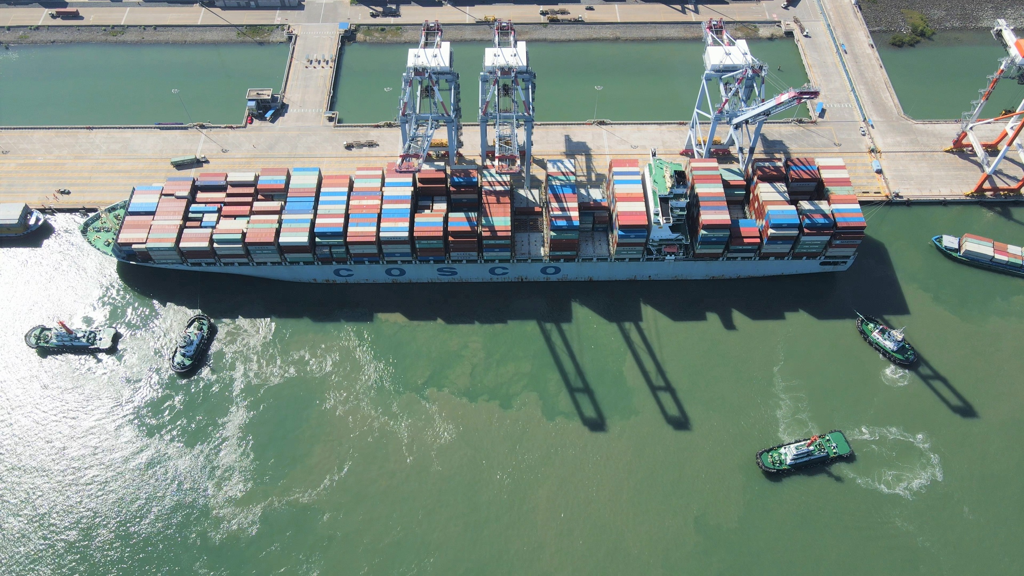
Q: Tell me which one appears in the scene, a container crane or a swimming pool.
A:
container crane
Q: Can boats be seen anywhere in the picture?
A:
Yes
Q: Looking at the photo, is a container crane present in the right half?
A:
Yes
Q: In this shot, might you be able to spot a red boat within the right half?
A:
No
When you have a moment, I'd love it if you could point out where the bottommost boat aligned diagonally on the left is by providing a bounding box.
[169,312,215,372]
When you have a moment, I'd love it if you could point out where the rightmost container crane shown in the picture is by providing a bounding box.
[941,13,1024,195]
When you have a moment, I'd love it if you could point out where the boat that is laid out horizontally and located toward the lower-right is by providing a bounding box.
[755,423,857,471]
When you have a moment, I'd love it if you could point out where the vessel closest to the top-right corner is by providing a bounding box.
[923,230,1024,278]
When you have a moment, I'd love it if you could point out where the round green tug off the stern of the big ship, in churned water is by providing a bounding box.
[855,314,918,366]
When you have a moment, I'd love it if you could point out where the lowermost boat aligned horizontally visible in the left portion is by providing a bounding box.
[22,306,122,352]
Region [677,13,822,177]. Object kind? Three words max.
container crane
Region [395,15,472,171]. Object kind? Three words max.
container crane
